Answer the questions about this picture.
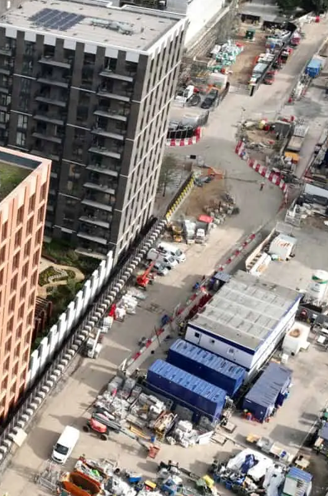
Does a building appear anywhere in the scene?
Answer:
Yes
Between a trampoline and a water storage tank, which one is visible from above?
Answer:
water storage tank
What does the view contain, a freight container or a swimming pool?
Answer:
freight container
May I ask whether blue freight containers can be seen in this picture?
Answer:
Yes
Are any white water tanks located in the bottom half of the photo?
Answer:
Yes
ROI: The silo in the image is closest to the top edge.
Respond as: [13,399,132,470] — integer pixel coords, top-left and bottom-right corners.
[305,261,328,311]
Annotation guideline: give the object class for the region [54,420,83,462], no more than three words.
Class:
van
